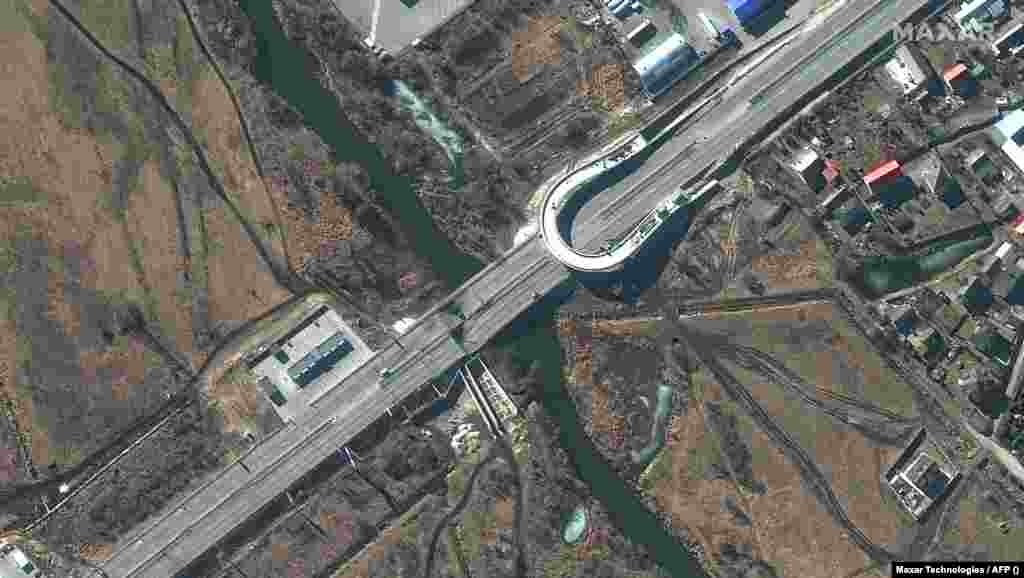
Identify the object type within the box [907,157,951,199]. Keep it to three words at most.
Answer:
house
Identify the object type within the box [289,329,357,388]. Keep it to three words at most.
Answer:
gas station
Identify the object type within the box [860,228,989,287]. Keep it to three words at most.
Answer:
pond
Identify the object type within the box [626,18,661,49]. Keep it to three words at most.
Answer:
building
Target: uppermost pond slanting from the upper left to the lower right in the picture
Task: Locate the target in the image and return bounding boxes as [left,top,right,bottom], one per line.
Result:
[388,74,466,184]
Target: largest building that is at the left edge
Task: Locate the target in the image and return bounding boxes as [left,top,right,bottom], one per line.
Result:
[4,540,35,572]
